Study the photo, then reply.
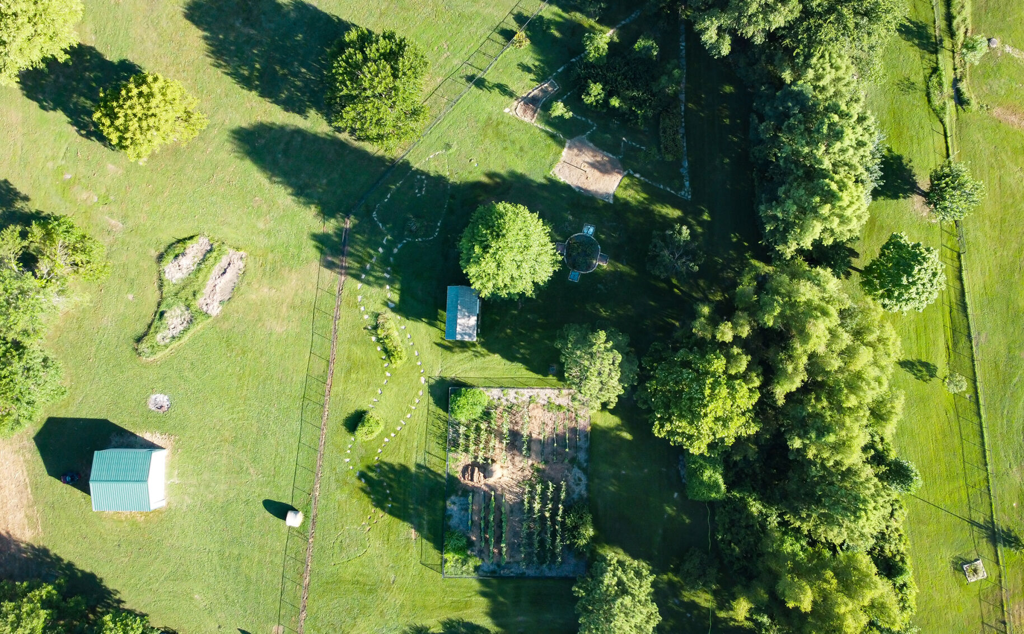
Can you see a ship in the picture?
No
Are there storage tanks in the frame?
No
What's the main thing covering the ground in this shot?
grass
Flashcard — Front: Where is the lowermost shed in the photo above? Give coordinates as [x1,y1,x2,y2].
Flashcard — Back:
[89,449,165,512]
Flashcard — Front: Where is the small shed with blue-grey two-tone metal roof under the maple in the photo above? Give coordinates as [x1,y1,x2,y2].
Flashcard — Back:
[445,285,484,340]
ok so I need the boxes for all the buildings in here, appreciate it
[89,449,165,512]
[445,285,484,340]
